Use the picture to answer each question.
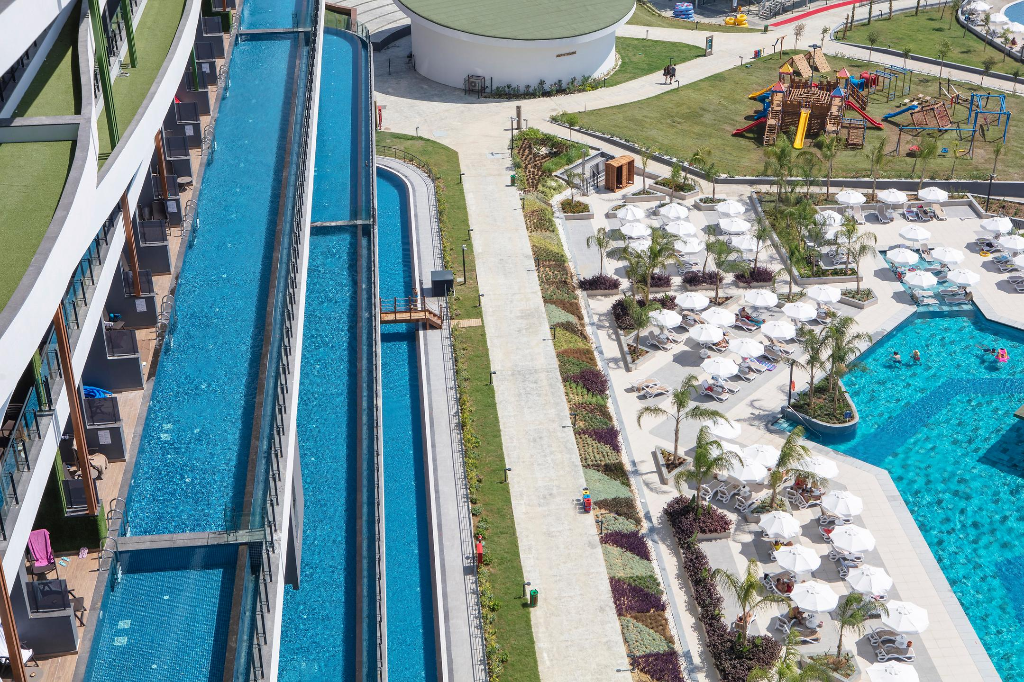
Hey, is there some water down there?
Yes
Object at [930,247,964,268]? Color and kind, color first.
white umbrella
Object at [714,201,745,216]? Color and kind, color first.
white umbrella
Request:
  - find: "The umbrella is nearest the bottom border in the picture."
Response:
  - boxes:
[864,657,921,682]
